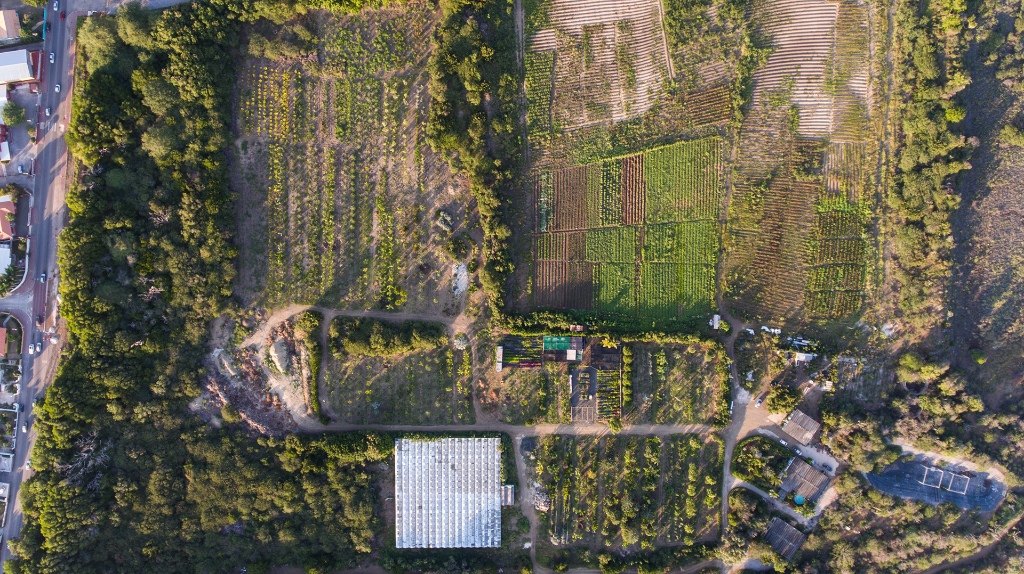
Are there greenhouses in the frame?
Yes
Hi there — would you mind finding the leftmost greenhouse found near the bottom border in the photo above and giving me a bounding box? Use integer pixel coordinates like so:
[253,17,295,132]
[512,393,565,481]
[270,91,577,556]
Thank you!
[395,436,501,548]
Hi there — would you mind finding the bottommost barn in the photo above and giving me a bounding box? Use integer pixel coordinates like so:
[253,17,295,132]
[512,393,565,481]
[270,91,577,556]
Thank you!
[763,517,806,560]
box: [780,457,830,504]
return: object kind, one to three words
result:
house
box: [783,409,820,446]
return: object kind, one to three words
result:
barn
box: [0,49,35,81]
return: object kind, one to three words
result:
building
